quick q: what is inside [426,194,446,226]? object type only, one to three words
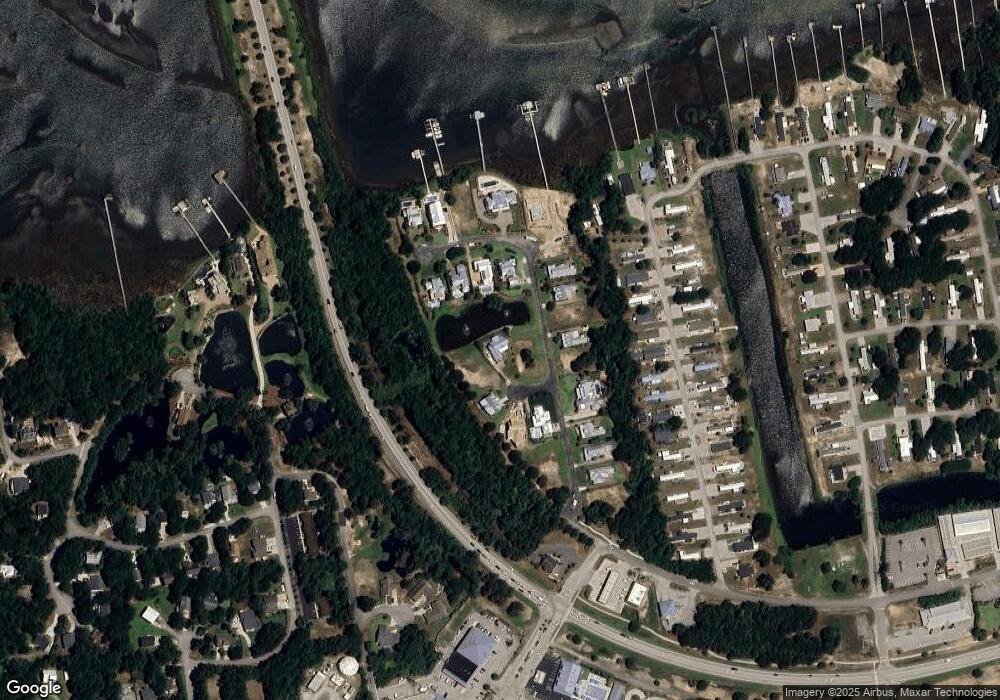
house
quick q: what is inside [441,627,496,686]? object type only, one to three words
building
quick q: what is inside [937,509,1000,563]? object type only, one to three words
building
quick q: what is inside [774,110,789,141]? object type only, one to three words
house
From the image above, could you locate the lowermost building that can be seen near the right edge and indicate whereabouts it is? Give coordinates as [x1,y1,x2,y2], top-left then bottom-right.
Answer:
[919,598,975,633]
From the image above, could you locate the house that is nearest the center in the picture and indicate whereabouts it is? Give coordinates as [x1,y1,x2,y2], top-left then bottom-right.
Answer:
[485,334,510,358]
